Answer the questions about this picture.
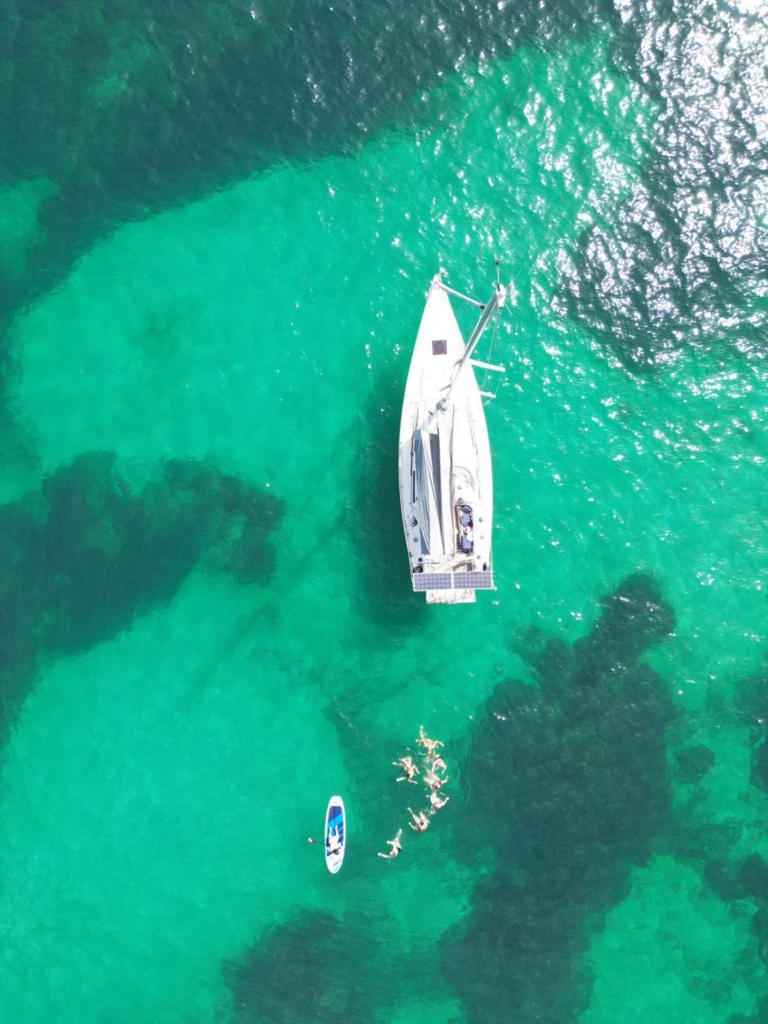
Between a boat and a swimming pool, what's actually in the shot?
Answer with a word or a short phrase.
boat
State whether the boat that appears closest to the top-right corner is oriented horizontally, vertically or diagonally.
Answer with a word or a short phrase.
vertically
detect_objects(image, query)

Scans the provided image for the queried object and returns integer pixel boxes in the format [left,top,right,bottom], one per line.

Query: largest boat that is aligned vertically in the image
[401,214,518,606]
